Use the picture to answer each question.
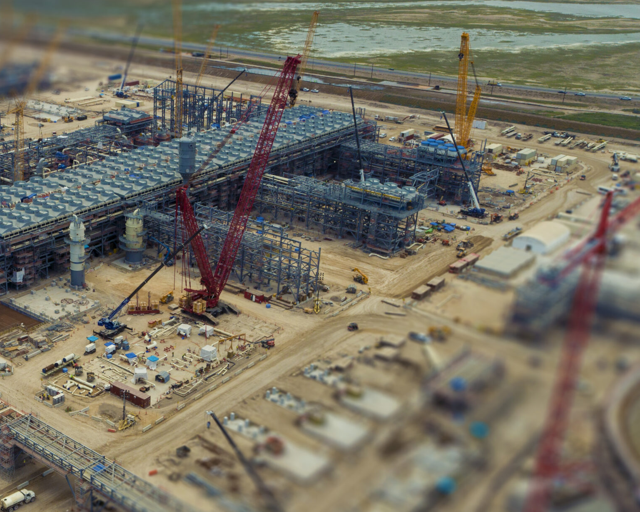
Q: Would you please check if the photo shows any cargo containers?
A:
Yes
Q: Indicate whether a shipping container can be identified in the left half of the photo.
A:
Yes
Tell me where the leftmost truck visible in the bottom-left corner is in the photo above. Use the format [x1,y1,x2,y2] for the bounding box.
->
[0,486,40,512]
